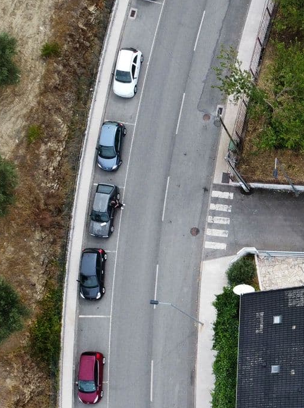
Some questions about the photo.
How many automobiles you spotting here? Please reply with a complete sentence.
The count of automobiles comes to 5.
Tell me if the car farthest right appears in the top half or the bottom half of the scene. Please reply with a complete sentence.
The top half of the photo is where the car farthest right is.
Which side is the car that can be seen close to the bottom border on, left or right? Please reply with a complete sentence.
The car that can be seen close to the bottom border is on the left side of the image.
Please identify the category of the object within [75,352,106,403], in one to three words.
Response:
car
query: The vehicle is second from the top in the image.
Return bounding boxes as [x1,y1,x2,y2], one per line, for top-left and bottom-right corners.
[95,122,128,172]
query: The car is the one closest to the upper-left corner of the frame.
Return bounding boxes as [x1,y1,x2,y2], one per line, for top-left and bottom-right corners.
[112,49,144,99]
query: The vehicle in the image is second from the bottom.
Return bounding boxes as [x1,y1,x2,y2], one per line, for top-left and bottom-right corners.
[77,248,108,301]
